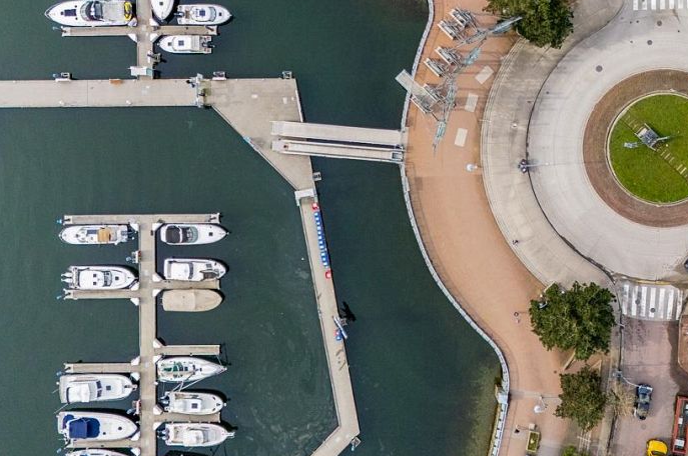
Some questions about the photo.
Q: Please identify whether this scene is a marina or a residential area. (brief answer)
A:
marina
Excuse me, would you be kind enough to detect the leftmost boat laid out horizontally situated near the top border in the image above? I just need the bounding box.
[44,0,137,28]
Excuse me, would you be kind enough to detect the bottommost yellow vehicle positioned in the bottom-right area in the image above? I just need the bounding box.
[646,440,667,456]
